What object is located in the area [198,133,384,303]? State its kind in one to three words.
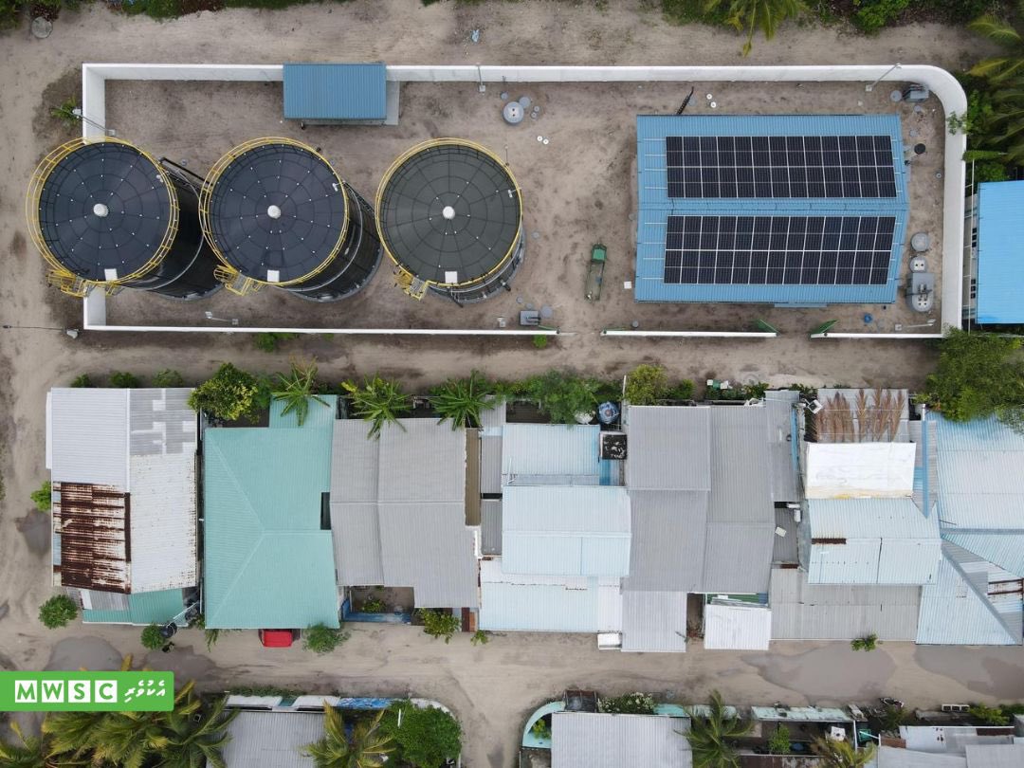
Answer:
water tank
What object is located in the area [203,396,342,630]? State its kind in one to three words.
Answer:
house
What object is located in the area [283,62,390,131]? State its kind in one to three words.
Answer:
shed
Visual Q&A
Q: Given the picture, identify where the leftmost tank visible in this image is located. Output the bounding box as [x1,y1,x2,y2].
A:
[24,132,234,301]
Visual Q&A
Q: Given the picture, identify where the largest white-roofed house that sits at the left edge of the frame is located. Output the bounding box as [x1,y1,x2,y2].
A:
[50,388,198,594]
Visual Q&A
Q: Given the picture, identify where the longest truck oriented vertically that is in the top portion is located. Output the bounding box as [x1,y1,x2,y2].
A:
[584,245,610,301]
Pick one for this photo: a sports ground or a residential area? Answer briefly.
residential area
